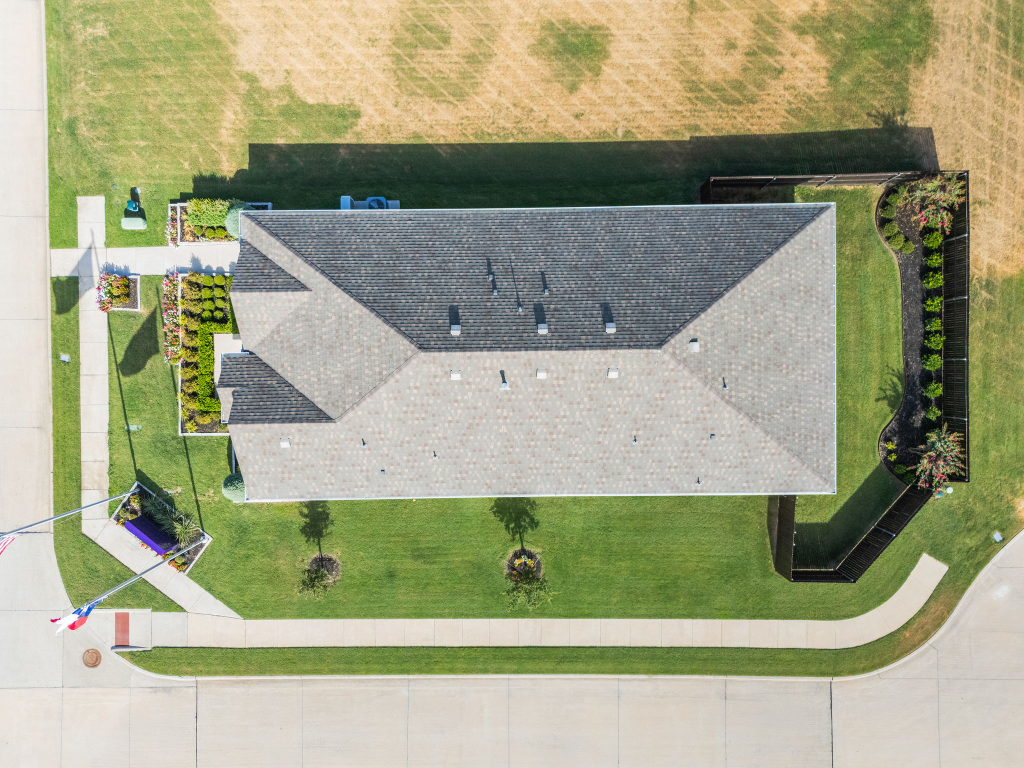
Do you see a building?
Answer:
Yes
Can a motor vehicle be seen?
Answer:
No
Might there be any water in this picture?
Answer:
No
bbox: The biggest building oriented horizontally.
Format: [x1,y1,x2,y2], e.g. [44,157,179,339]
[215,203,835,501]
